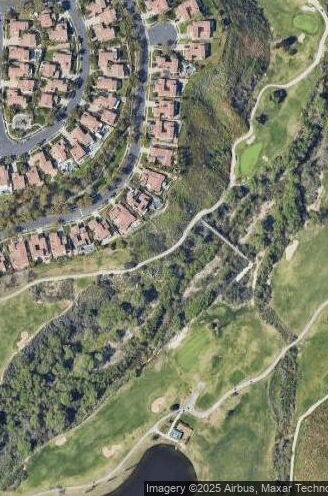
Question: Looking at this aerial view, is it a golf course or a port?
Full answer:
This looks like a golf course.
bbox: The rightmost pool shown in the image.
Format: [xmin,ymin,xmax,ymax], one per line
[183,61,198,78]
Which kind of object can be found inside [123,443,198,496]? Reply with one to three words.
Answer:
pond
